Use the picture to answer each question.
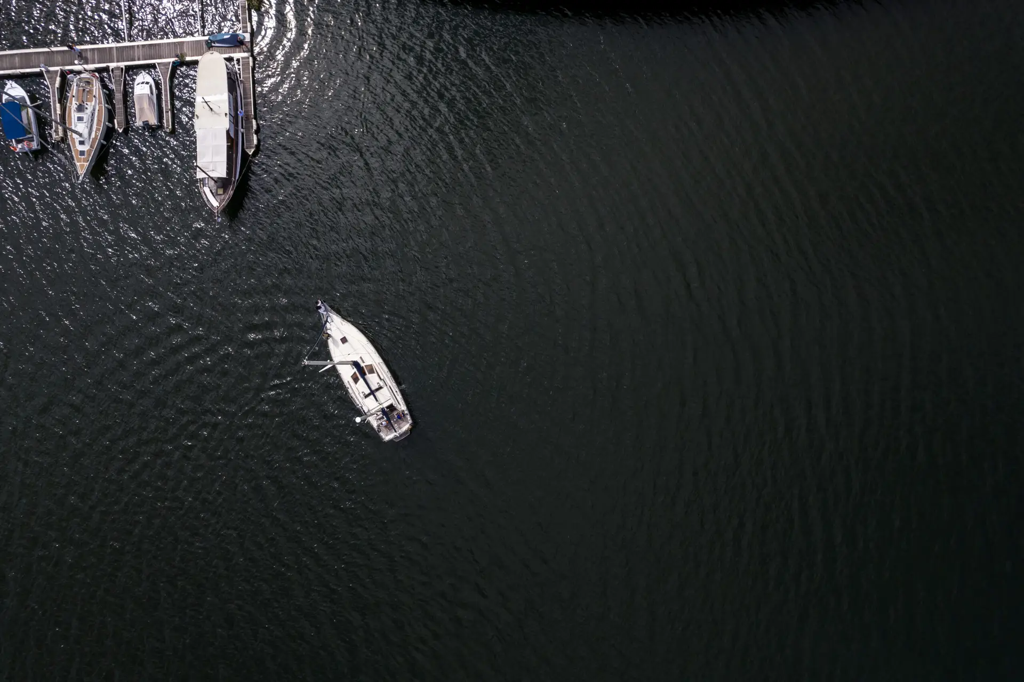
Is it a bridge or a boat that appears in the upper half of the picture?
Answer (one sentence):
It is a boat that can be seen in the upper half of the picture.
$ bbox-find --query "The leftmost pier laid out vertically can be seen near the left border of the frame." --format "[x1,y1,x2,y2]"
[43,71,65,141]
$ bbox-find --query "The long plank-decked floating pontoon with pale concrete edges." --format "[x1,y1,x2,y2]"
[0,33,250,78]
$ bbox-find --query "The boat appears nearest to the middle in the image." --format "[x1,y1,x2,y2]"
[303,301,413,441]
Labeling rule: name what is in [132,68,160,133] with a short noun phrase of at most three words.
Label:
boat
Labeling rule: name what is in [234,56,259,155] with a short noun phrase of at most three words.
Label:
pier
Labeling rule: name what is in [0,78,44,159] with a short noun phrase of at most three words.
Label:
boat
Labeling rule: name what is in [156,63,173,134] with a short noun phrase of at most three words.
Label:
pier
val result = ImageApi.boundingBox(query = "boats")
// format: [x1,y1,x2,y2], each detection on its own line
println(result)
[0,78,44,159]
[0,60,109,182]
[208,32,244,47]
[303,301,413,441]
[194,52,243,220]
[132,68,160,133]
